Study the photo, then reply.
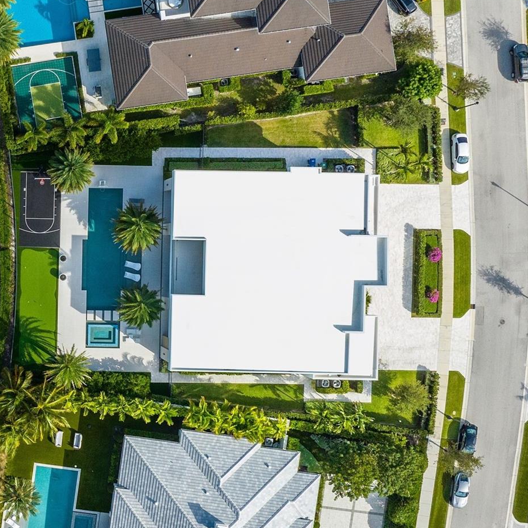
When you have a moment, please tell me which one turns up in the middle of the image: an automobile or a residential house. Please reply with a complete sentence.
The one visible in the middle of the image is a residential house.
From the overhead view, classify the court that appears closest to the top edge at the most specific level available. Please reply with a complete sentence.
It looks like the court that appears closest to the top edge is a basketball court.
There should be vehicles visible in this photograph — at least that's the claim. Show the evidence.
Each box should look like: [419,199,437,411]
[449,133,468,172]
[395,0,420,15]
[510,41,528,81]
[458,420,478,458]
[448,470,469,509]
